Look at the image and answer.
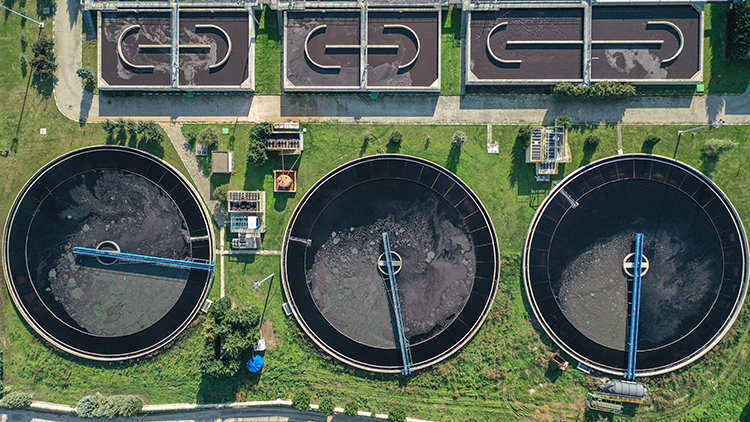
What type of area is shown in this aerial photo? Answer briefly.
industrial area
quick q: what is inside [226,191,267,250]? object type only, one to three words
building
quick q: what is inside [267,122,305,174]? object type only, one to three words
building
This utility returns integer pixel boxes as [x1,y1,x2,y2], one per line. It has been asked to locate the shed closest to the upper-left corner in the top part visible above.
[212,151,237,173]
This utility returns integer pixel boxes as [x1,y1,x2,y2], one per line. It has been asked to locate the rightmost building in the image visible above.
[524,116,574,182]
